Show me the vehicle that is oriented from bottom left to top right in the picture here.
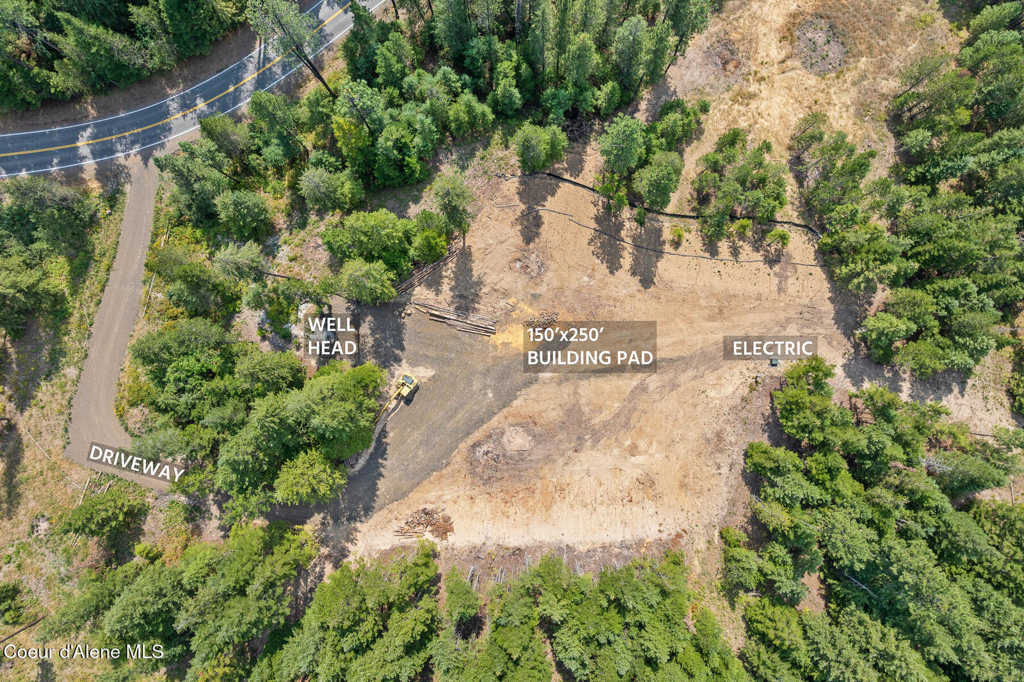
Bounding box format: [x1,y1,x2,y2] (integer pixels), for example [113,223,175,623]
[375,373,421,427]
